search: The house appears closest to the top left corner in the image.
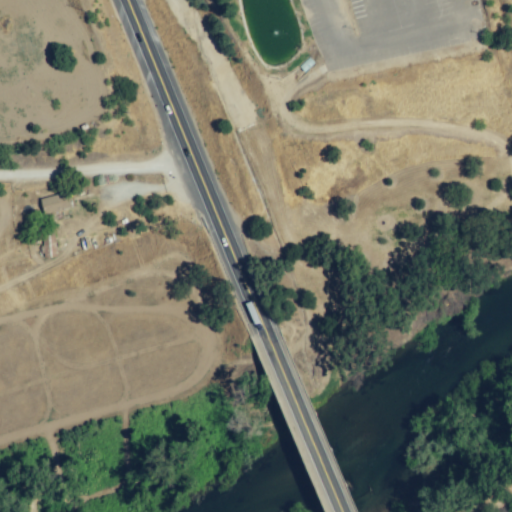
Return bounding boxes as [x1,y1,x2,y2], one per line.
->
[40,195,64,214]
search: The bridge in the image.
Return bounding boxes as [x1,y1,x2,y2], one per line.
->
[253,330,358,512]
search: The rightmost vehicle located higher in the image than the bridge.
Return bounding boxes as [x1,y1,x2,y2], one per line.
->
[248,300,264,331]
